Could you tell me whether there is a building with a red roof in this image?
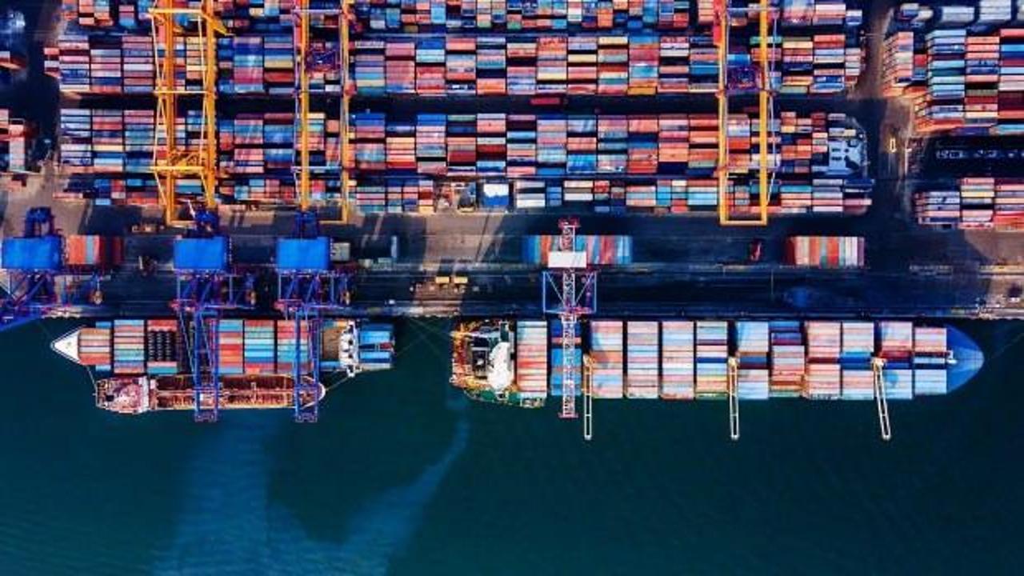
No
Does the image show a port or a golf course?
port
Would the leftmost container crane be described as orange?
No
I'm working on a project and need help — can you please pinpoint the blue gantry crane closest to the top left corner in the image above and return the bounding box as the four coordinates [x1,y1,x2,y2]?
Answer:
[0,209,133,338]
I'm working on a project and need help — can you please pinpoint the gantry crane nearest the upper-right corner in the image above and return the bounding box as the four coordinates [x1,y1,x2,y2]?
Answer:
[706,0,784,223]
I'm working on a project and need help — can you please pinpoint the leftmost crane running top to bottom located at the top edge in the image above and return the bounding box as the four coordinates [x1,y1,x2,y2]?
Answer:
[149,0,241,223]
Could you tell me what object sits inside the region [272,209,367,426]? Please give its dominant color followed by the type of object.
blue container crane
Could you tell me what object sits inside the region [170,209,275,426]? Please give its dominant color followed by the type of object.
blue container crane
